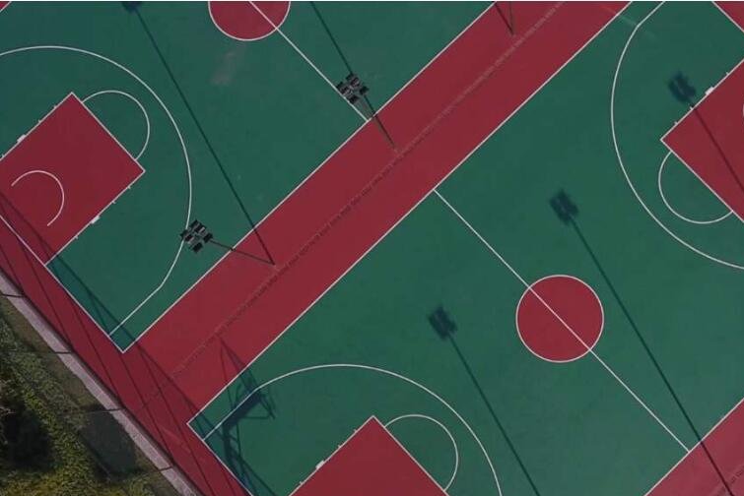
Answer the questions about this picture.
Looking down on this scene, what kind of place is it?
sports ground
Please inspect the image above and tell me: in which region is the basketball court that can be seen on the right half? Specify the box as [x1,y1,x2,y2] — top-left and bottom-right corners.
[188,0,744,496]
